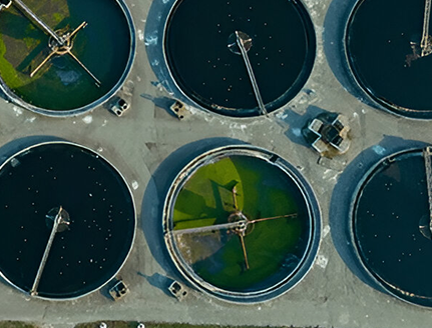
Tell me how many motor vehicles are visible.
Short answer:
zero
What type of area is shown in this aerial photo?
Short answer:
industrial area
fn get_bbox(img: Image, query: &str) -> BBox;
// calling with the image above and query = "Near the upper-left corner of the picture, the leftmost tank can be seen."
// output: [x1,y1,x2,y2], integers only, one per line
[0,0,136,117]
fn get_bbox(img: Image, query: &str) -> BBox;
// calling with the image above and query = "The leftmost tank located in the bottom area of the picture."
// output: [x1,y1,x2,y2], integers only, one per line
[0,141,137,299]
